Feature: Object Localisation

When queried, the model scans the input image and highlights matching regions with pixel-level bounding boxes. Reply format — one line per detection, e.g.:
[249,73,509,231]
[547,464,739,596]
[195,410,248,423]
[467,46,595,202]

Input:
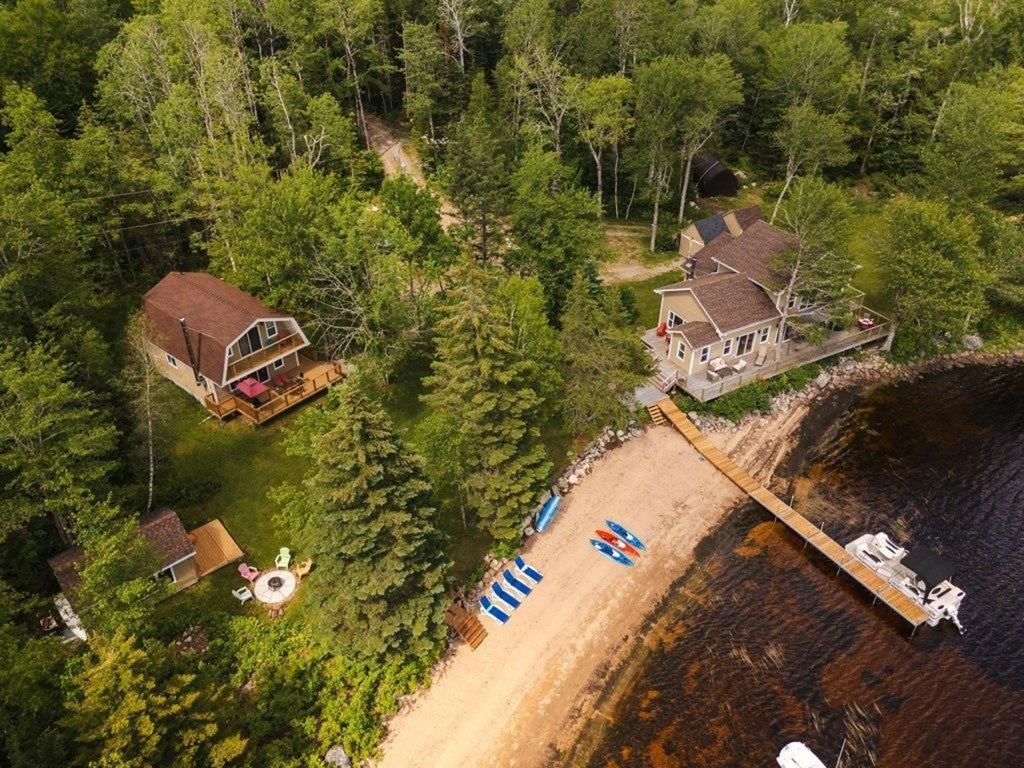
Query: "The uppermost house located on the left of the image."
[136,273,346,430]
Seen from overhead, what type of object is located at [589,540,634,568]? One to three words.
boat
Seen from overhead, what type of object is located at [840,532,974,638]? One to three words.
boat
